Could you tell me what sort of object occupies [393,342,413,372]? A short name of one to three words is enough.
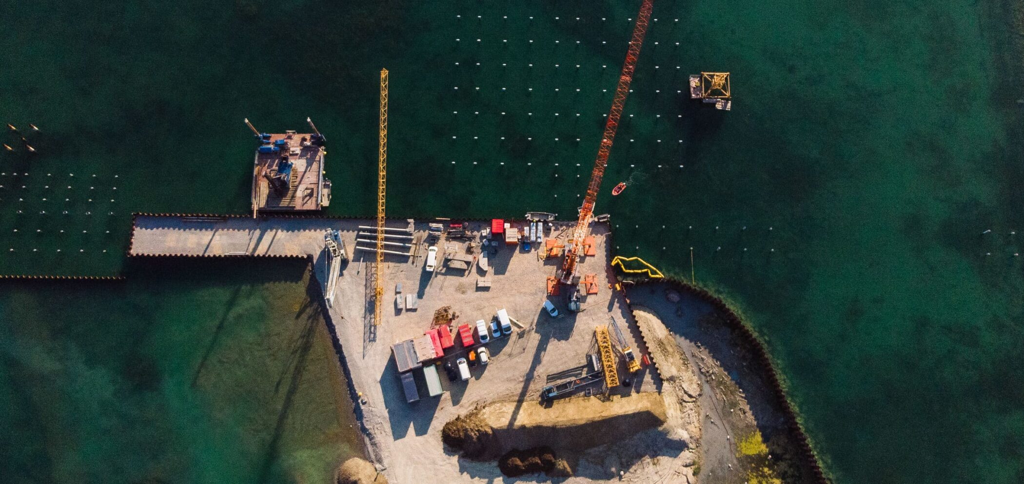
building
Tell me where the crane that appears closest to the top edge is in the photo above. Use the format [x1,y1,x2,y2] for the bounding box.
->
[550,0,657,312]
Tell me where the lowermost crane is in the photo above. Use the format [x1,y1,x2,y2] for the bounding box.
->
[605,316,641,373]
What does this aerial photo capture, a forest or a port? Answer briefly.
port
